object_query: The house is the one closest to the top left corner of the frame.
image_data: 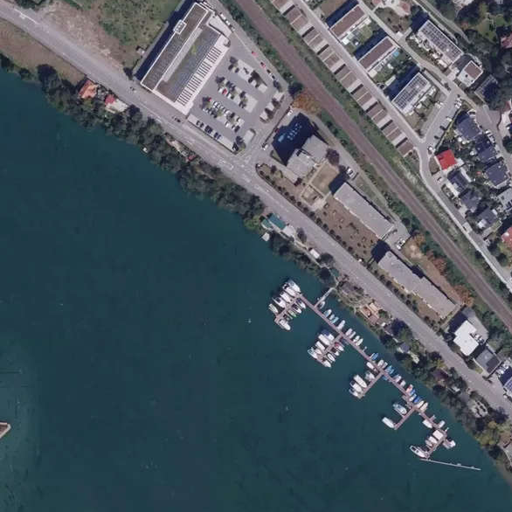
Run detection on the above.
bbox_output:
[79,78,100,100]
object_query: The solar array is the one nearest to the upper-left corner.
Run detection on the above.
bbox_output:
[167,31,220,98]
